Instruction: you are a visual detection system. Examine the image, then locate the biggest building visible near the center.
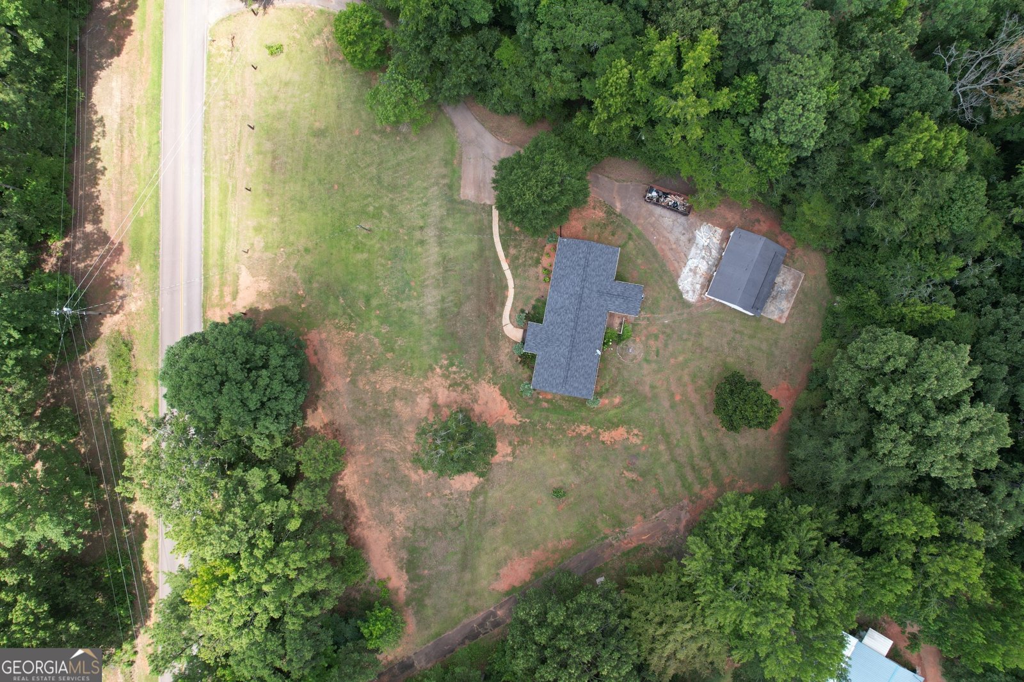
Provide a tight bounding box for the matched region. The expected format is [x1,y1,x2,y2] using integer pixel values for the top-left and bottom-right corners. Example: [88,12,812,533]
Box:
[520,238,643,398]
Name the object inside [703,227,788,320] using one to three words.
building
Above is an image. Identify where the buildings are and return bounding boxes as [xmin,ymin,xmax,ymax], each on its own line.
[811,632,924,682]
[520,238,643,398]
[703,227,788,320]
